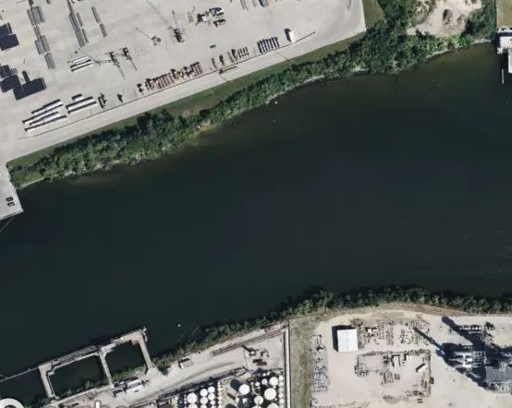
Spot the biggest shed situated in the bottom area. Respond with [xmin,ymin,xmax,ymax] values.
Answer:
[336,329,357,352]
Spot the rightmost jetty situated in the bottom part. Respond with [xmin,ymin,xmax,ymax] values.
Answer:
[38,327,153,398]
